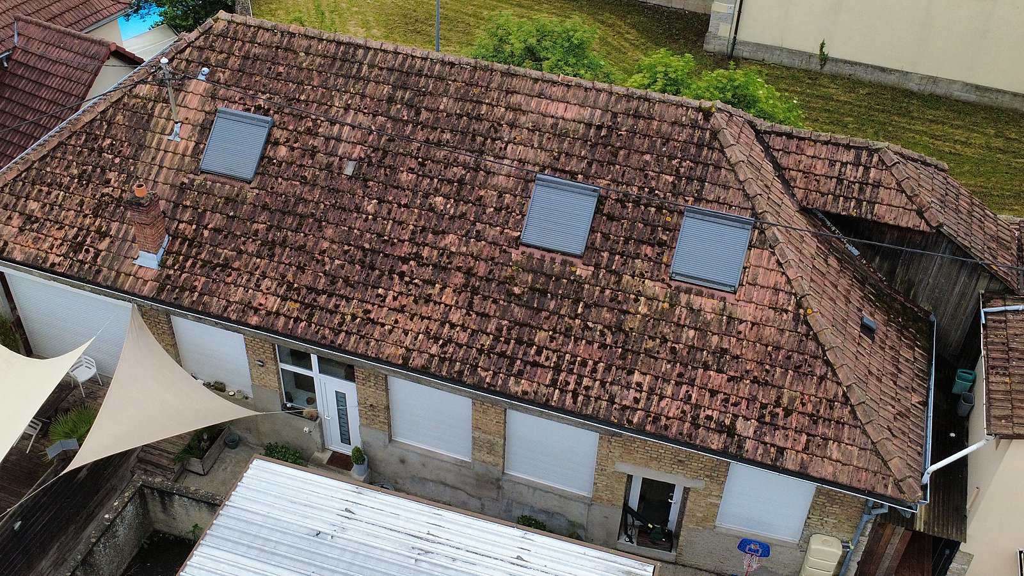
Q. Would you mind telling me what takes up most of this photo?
buildings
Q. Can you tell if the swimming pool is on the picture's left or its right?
left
